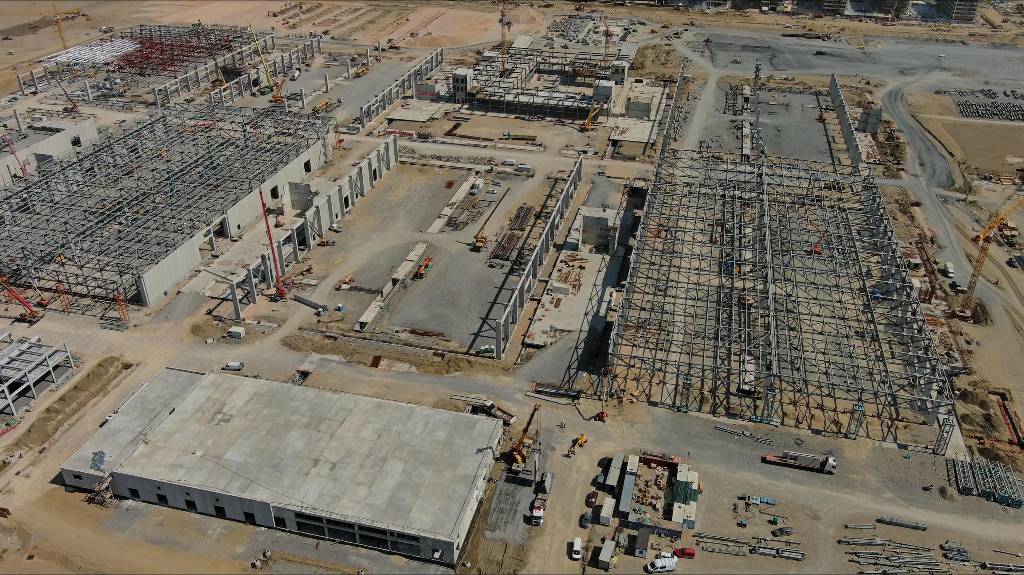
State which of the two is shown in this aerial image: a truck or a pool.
truck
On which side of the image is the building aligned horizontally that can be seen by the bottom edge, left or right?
left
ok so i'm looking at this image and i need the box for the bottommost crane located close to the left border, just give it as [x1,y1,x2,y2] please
[0,274,46,326]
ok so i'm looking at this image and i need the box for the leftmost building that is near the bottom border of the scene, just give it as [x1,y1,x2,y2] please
[62,365,503,564]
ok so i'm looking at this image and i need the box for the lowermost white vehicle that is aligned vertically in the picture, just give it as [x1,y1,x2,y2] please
[570,534,582,560]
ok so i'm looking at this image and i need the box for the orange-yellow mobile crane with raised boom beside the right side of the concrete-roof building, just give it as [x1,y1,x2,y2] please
[502,406,542,480]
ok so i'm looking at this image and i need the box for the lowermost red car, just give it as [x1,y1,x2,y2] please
[674,548,698,561]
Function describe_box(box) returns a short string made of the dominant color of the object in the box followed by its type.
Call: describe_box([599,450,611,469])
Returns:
black vehicle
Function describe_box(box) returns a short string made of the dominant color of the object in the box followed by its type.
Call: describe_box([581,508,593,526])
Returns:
gray vehicle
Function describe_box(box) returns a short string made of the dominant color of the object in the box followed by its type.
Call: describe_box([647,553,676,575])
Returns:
white vehicle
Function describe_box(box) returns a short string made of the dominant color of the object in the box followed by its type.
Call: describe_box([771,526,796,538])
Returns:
gray vehicle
